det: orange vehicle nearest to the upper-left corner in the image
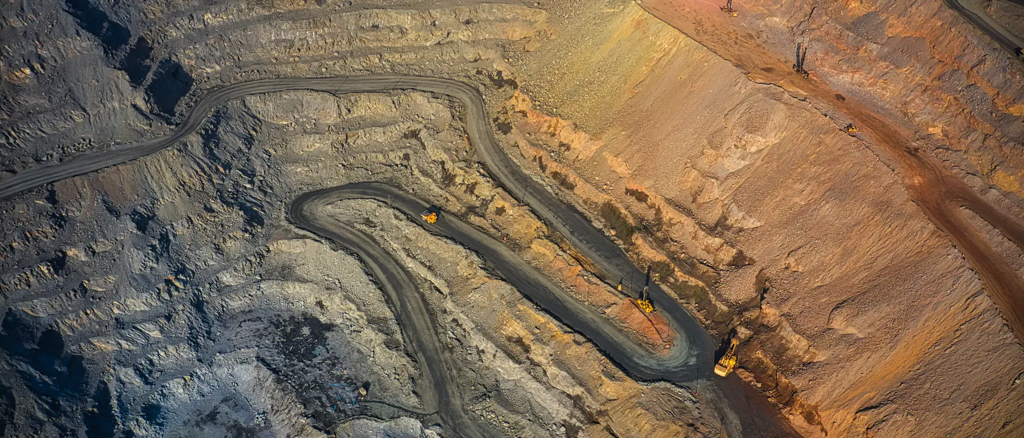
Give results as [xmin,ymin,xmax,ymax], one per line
[420,209,439,224]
